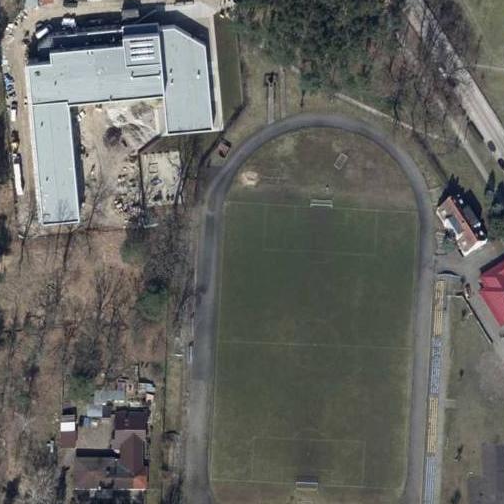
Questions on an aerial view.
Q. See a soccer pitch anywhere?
Yes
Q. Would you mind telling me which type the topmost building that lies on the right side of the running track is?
residential house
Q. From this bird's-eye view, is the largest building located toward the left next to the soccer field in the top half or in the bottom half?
top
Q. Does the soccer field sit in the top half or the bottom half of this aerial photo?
bottom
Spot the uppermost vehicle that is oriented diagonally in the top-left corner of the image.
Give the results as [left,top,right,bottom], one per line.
[34,22,54,40]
